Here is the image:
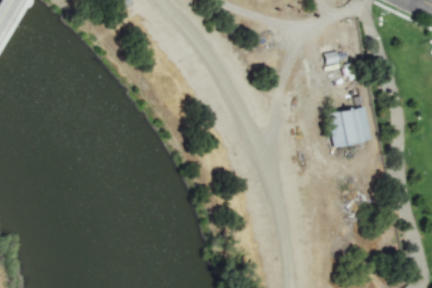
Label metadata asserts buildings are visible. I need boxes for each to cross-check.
[333,106,372,147]
[324,52,348,64]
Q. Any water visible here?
Yes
